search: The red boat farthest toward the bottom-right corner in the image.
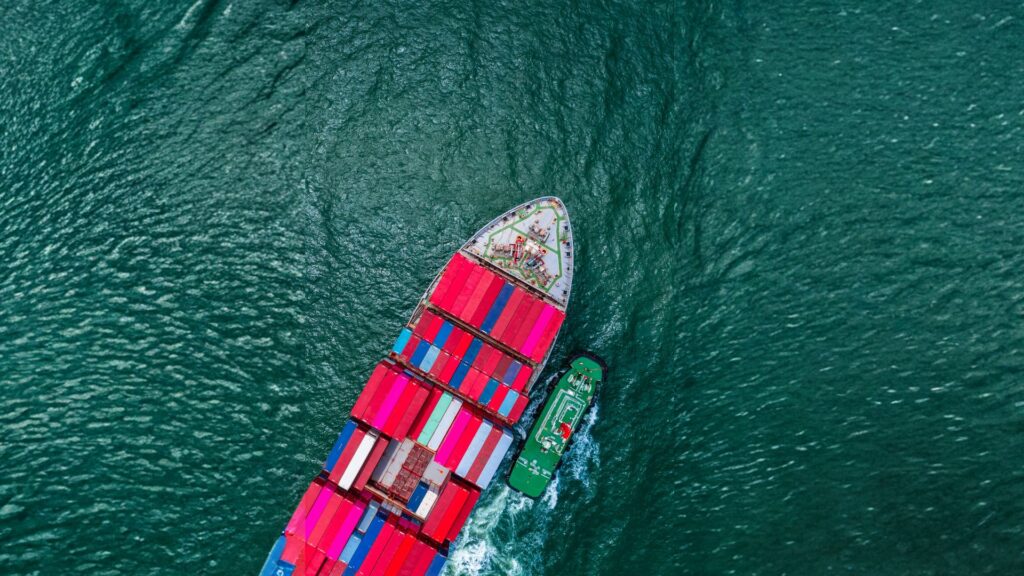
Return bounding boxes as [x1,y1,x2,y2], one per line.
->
[556,423,569,437]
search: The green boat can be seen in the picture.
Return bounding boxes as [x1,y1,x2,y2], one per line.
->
[505,349,608,499]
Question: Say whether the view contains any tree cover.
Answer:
No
